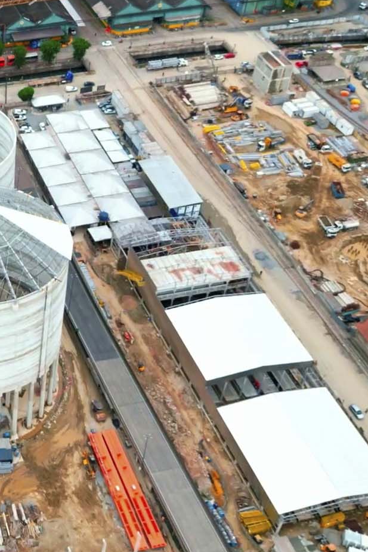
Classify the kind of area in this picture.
industrial area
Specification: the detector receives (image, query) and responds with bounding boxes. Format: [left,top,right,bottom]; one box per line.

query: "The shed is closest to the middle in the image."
[139,245,253,309]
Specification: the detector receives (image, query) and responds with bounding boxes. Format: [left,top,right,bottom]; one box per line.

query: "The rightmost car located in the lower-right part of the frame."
[349,402,366,419]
